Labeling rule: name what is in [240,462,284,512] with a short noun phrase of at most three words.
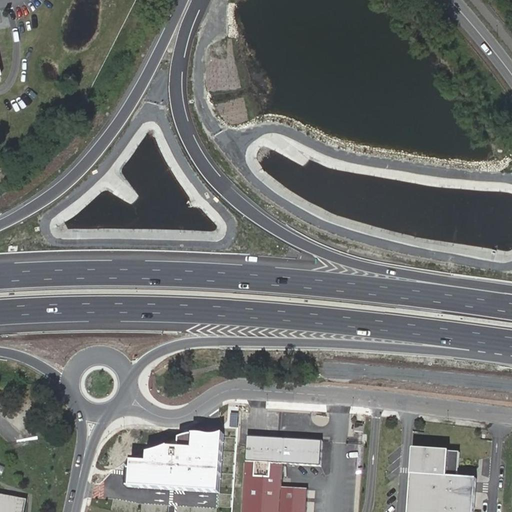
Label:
building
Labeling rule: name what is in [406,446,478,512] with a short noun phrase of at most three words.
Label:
building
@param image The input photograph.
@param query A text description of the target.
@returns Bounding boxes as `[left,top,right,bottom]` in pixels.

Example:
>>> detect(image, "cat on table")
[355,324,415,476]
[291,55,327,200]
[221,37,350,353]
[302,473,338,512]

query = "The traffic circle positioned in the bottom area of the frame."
[61,346,138,422]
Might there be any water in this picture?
Yes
